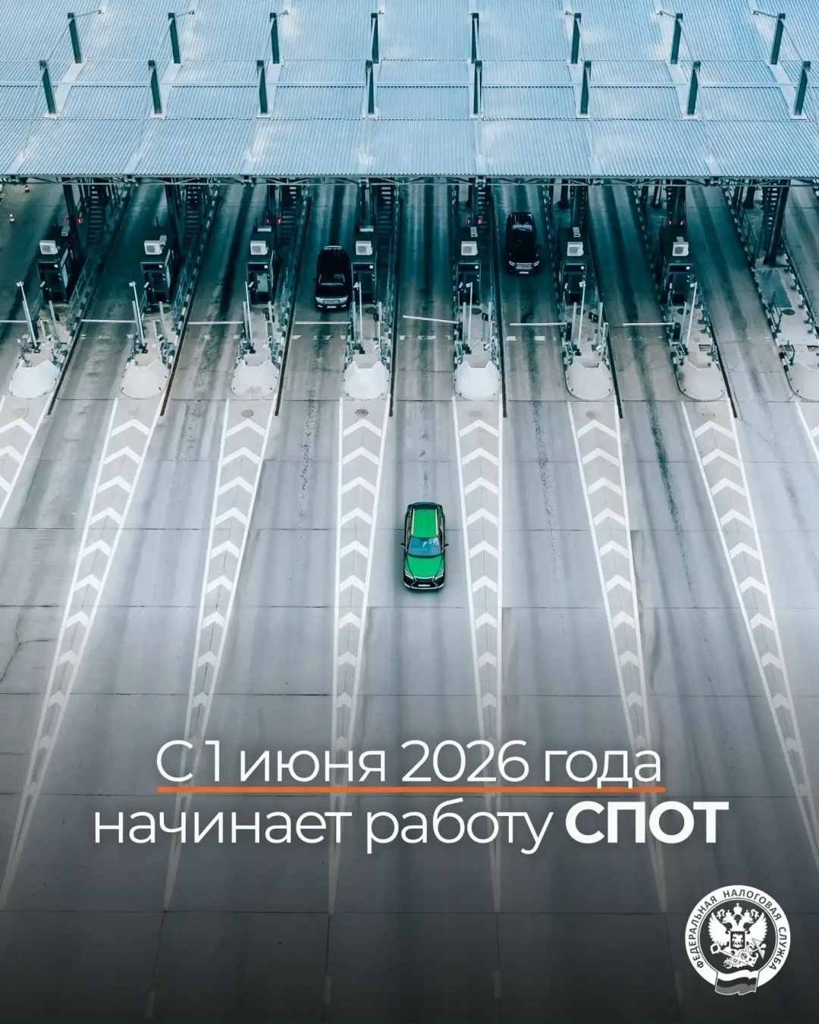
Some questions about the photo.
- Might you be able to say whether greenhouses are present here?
No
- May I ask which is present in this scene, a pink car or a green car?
green car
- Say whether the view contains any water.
No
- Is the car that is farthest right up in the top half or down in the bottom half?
top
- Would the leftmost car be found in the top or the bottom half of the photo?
top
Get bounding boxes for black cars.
[501,215,542,273]
[311,245,352,308]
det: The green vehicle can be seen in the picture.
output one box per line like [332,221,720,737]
[397,502,451,590]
